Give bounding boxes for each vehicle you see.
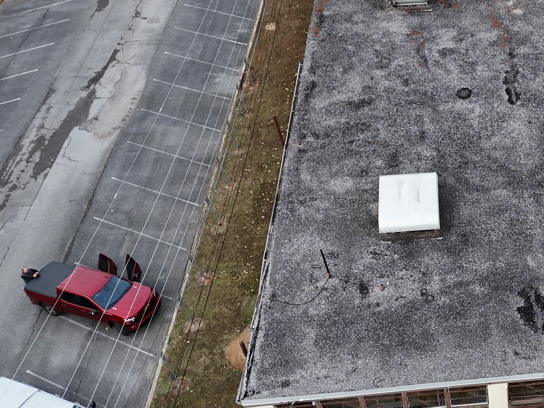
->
[0,377,81,408]
[24,252,167,336]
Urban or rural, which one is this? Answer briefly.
urban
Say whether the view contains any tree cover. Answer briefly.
No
